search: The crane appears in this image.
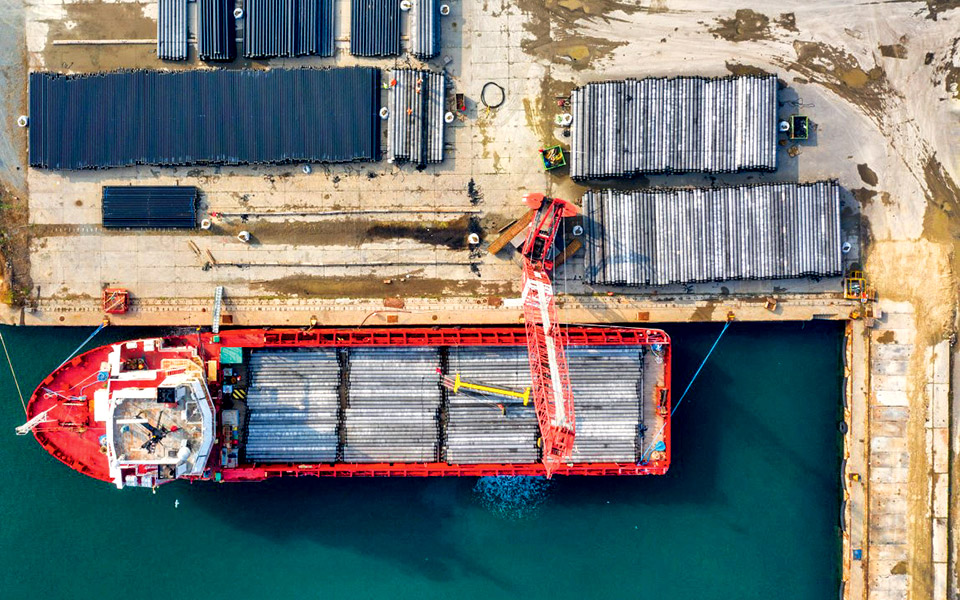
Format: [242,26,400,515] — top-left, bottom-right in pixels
[495,195,581,479]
